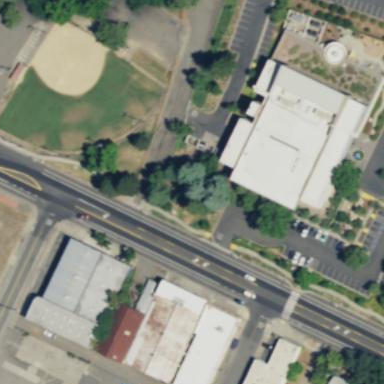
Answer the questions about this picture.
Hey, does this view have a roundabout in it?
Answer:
No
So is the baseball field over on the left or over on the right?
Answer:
left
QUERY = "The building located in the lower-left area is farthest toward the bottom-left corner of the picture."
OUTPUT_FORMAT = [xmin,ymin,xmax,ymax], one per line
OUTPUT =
[25,296,97,348]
